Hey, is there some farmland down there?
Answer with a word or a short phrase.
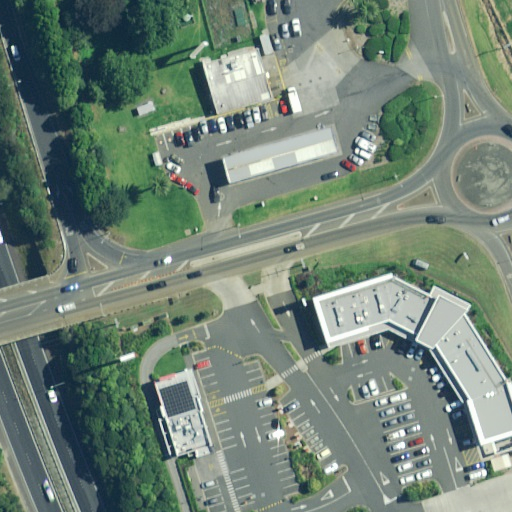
No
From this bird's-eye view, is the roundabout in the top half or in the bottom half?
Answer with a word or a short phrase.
top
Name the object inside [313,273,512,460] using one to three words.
building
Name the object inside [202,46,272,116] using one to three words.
building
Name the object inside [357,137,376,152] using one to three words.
vehicle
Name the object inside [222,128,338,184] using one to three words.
shed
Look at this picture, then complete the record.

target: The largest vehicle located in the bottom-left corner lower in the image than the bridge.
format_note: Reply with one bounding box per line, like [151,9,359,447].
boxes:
[43,479,56,501]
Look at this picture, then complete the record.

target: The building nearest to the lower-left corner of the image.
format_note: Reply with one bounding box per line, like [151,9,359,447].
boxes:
[154,368,212,458]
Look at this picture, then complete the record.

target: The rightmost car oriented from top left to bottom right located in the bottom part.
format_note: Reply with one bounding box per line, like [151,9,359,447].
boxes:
[392,340,404,356]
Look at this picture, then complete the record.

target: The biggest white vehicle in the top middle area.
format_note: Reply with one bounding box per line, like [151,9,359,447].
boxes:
[287,86,302,116]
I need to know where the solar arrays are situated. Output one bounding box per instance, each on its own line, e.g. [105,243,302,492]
[160,382,194,418]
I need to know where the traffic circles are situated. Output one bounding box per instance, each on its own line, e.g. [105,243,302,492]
[432,118,512,232]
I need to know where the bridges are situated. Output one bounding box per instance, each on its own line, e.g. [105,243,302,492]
[0,272,62,346]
